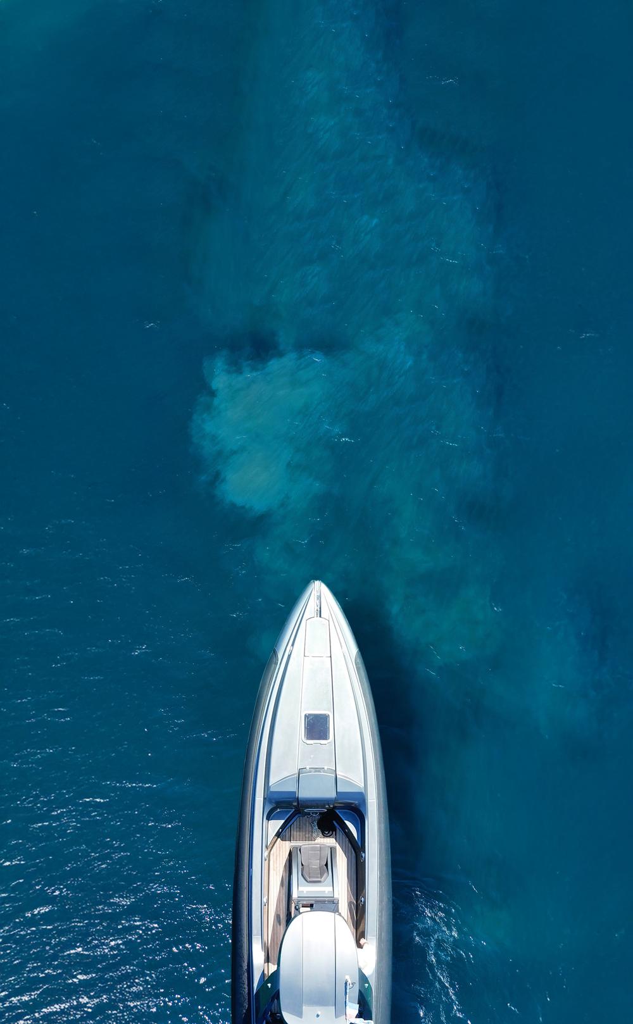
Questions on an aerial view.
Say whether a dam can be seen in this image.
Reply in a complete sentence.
No, no dam is visible in the view.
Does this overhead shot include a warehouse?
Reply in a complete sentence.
No, no warehouse can be seen from above.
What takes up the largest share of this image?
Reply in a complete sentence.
The bulk of the photo consists of water.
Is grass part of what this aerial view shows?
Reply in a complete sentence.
No, the scene doesn't show any grass.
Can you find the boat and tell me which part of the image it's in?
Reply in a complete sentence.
You can find the boat in the bottom area of the picture.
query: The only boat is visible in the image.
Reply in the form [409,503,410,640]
[232,580,391,1024]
